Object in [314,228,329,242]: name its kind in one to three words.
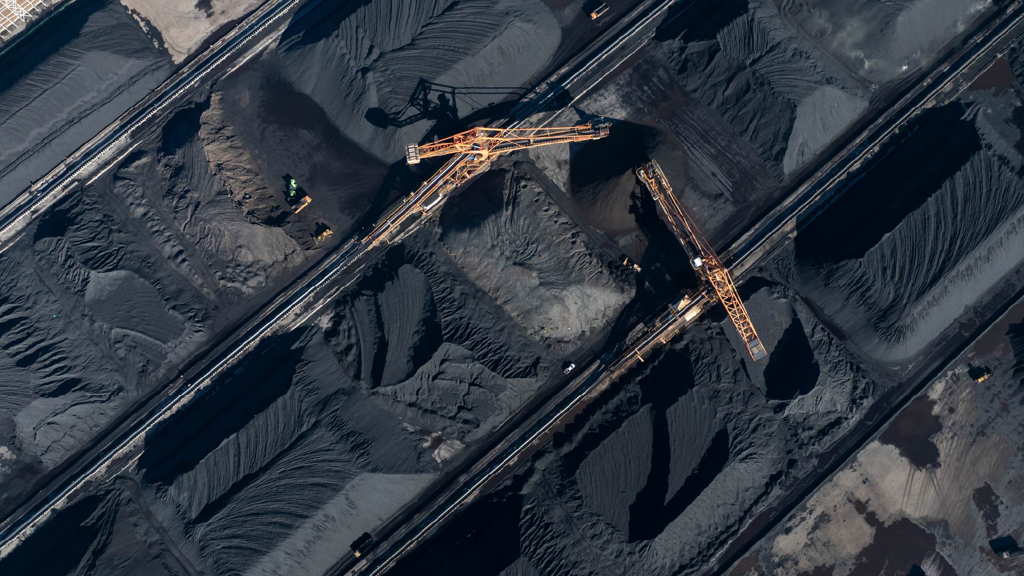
work vehicle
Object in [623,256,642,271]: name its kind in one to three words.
work vehicle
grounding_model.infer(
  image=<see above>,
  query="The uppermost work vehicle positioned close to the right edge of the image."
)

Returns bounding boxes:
[974,372,992,385]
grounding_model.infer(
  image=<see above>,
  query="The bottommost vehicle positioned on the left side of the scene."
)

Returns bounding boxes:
[353,537,374,555]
